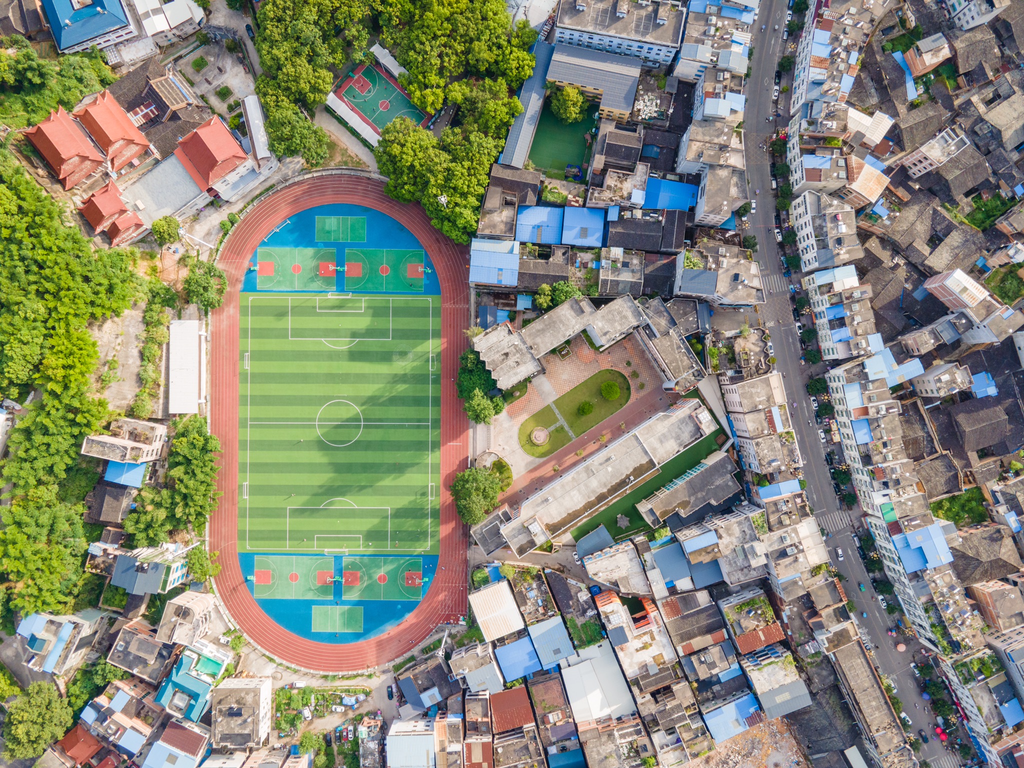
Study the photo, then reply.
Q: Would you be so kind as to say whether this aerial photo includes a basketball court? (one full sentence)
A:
Yes, there is a basketball court in the image.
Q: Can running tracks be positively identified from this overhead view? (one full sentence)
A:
Yes, the picture does show a running track.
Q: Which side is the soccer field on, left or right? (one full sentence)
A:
It is on the left.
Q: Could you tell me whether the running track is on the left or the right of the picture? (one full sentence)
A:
You can find the running track on the left side of the picture.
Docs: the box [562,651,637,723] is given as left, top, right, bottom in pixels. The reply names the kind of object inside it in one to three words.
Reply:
building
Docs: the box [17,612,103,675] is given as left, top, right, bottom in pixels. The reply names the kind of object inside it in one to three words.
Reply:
house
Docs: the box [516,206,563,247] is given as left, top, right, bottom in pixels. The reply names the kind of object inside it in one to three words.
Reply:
shed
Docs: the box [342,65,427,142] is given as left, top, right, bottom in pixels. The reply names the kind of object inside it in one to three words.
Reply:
basketball court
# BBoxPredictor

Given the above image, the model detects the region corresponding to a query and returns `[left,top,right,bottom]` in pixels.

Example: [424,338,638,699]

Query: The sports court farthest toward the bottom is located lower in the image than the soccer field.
[312,606,363,632]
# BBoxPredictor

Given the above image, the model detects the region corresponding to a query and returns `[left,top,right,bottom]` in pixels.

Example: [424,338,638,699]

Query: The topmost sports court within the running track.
[315,216,366,242]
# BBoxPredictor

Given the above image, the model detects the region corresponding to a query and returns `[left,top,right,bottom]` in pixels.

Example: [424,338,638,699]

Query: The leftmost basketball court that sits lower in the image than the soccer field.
[254,556,333,600]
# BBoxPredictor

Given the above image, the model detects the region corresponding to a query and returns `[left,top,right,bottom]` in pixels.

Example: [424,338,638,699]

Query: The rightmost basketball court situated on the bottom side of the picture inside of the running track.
[342,558,422,601]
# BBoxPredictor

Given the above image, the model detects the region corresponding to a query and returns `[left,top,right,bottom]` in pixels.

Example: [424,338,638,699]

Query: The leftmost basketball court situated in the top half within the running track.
[257,248,336,290]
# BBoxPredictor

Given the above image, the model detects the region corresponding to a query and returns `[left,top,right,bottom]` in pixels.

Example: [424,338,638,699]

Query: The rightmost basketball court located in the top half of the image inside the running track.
[345,248,424,292]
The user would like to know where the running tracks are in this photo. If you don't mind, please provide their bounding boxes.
[209,174,469,673]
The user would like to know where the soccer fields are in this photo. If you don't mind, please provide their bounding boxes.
[238,292,441,555]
